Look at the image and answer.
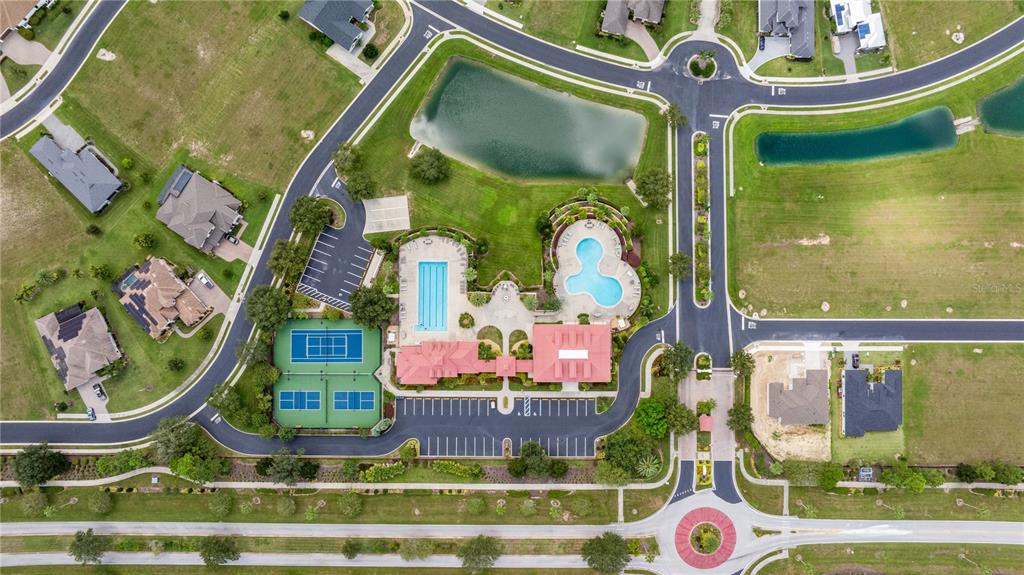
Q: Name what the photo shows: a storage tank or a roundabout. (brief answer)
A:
roundabout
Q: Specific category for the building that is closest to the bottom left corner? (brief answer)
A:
residential house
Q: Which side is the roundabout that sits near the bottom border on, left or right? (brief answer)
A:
right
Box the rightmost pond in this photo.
[975,75,1024,138]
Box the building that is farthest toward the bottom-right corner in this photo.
[841,369,903,436]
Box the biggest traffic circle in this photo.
[675,507,736,569]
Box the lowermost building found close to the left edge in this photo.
[35,306,123,391]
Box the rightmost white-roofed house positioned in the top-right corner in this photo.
[825,0,886,50]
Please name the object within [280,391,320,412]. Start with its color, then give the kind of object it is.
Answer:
blue sports court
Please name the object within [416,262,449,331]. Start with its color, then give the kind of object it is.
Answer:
blue swimming pool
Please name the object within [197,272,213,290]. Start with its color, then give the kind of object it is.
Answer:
white vehicle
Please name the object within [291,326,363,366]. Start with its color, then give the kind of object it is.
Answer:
blue tennis court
